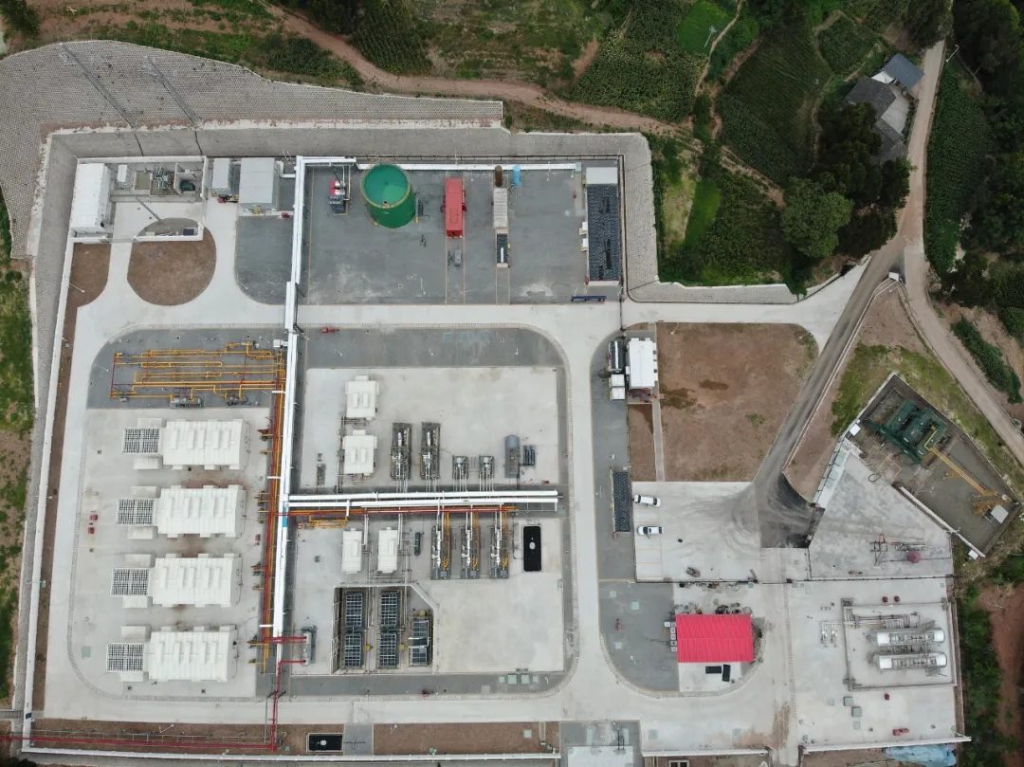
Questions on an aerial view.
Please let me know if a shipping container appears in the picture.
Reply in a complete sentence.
Yes, looking at the shot, I can spot a shipping container.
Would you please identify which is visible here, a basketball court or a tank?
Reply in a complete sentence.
I can see a tank in this picture.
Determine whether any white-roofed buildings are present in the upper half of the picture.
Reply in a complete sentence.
Yes, in the upper half of the picture there is a white-roofed building.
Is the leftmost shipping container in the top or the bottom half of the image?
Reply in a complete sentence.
The top half of the photo is where the leftmost shipping container is.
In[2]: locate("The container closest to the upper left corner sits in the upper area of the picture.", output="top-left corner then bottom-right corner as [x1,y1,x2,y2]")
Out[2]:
[443,178,468,237]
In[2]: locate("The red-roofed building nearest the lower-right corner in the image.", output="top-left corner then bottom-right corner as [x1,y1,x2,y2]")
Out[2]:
[673,614,753,662]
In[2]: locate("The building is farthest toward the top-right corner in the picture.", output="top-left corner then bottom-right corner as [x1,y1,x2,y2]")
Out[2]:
[876,55,922,98]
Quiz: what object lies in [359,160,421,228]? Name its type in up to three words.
storage tank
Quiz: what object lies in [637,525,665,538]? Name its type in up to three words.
vehicle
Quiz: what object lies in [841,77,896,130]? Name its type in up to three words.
house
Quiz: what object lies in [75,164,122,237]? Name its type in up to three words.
building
